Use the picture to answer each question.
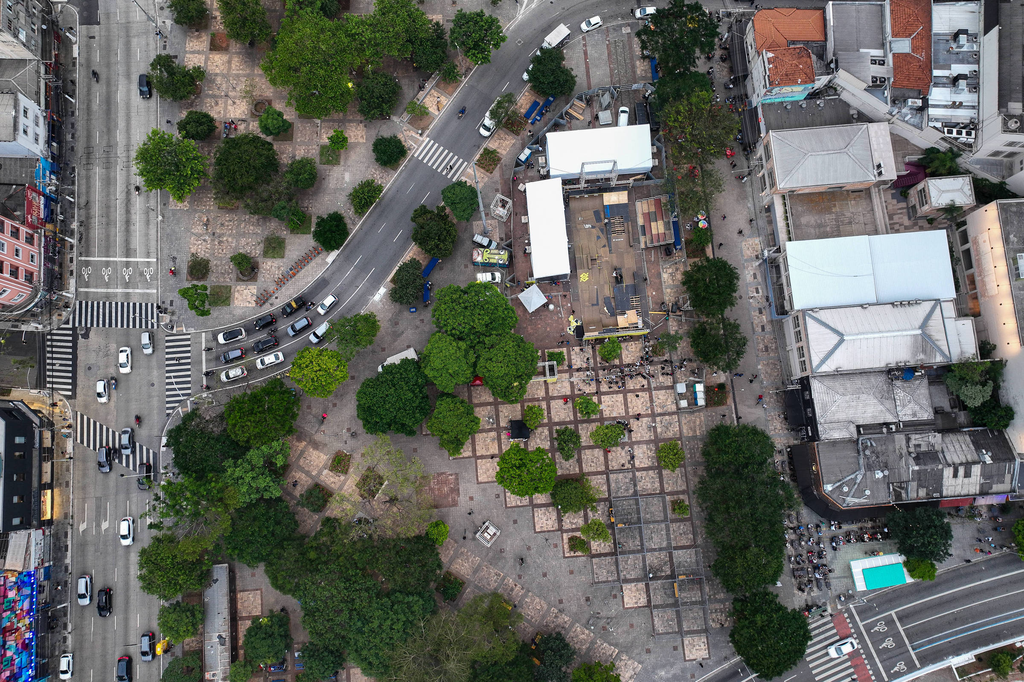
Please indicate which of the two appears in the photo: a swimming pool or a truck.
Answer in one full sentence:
Of the two, only a truck appears.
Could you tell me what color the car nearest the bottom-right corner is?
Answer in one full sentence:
The car nearest the bottom-right corner is white.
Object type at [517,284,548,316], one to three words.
tent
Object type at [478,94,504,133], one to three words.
truck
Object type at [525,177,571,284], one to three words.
tent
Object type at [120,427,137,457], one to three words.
car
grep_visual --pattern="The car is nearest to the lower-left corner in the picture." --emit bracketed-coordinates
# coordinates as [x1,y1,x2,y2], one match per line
[57,649,77,682]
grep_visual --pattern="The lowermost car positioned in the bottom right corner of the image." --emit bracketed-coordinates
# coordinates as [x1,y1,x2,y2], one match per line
[824,636,861,659]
